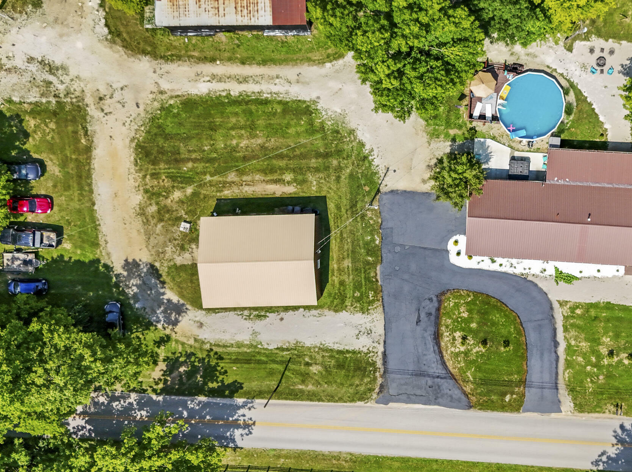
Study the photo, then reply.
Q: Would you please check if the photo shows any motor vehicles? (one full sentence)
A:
Yes, a motor vehicle is visible in the scene.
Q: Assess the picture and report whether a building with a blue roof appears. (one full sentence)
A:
No, the picture doesn't show any building with a blue roof.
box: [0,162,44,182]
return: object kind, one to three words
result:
car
